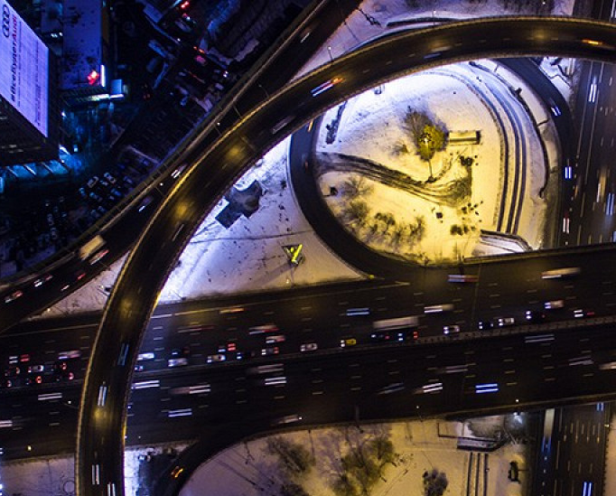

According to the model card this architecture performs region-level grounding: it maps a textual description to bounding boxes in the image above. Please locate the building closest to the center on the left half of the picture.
[212,174,267,227]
